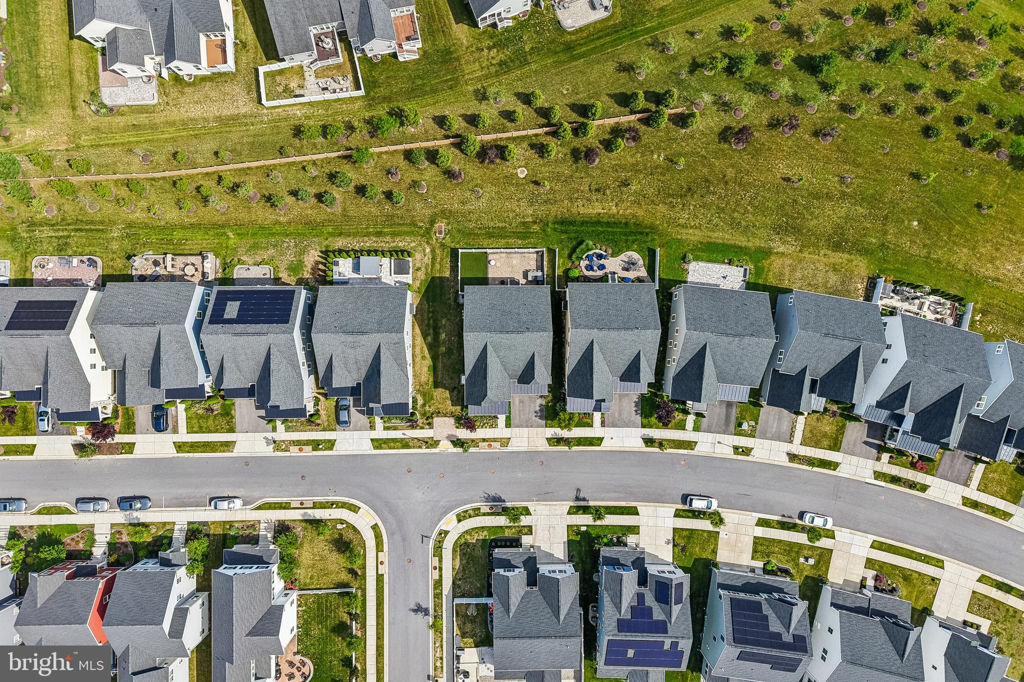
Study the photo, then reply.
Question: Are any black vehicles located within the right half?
No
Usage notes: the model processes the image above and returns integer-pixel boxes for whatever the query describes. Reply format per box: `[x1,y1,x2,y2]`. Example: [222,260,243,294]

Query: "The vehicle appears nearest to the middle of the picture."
[335,398,350,429]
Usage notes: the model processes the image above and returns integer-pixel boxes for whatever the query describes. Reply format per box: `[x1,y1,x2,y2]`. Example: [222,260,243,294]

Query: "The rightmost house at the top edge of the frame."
[470,0,531,31]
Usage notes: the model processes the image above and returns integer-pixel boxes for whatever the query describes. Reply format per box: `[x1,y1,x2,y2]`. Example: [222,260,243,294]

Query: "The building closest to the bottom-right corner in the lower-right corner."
[922,618,1011,682]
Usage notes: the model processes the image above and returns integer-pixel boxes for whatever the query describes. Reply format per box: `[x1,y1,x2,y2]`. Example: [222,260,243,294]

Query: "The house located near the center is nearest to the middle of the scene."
[460,286,553,416]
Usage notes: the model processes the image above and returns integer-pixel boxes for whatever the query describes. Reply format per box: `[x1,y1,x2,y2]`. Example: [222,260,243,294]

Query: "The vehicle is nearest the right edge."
[802,513,835,530]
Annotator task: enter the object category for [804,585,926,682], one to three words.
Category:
house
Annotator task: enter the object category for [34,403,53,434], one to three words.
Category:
car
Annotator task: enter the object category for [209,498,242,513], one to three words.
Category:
car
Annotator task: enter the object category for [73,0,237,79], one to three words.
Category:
house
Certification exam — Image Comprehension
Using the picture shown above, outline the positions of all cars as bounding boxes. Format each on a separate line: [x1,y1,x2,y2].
[802,513,835,530]
[0,499,24,515]
[335,398,350,429]
[74,499,107,515]
[209,498,242,513]
[34,403,53,434]
[116,498,148,513]
[688,496,720,512]
[149,404,166,433]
